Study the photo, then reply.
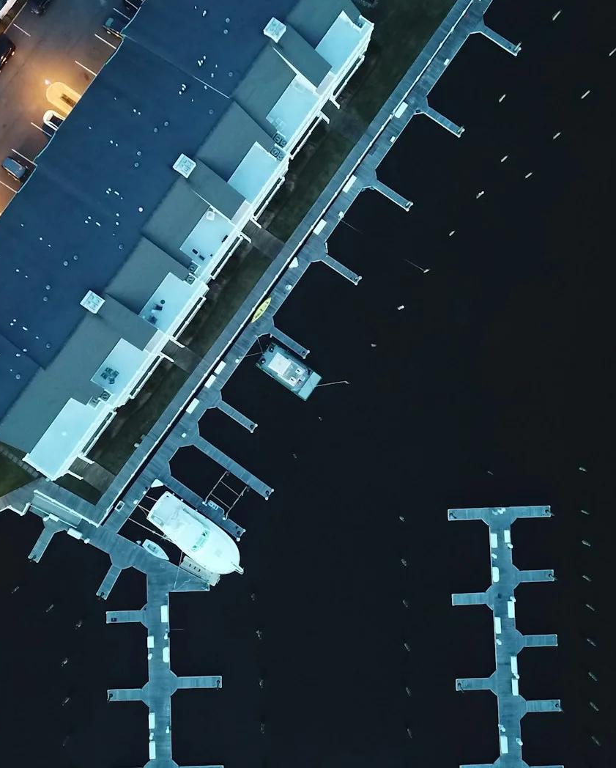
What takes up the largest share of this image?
water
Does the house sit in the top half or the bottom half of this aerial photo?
top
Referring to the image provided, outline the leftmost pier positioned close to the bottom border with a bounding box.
[26,496,226,768]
